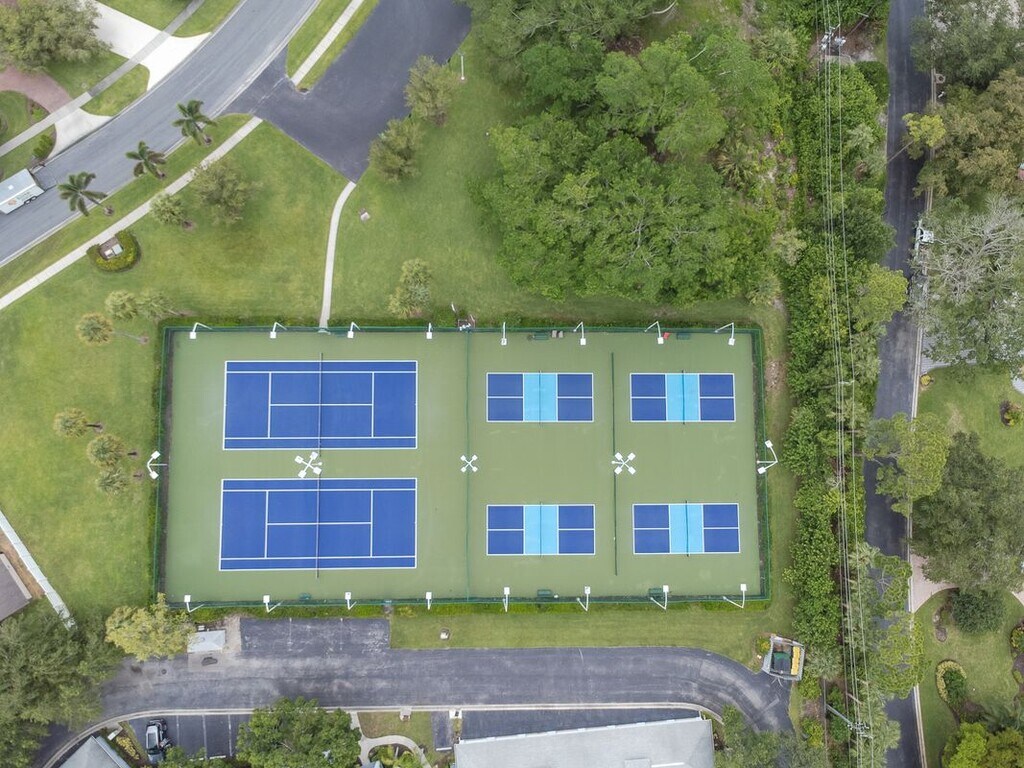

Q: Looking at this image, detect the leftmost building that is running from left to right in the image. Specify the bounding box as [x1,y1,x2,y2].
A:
[58,729,145,768]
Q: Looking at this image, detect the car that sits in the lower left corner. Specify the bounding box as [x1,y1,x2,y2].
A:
[146,717,168,760]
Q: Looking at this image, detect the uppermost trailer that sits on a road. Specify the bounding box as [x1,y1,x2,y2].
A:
[0,169,49,213]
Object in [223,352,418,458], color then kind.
blue tennis court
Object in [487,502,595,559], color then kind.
blue sports court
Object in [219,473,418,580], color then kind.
blue tennis court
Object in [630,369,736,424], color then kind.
blue sports court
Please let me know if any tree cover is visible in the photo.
Yes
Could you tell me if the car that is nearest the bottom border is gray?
Yes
